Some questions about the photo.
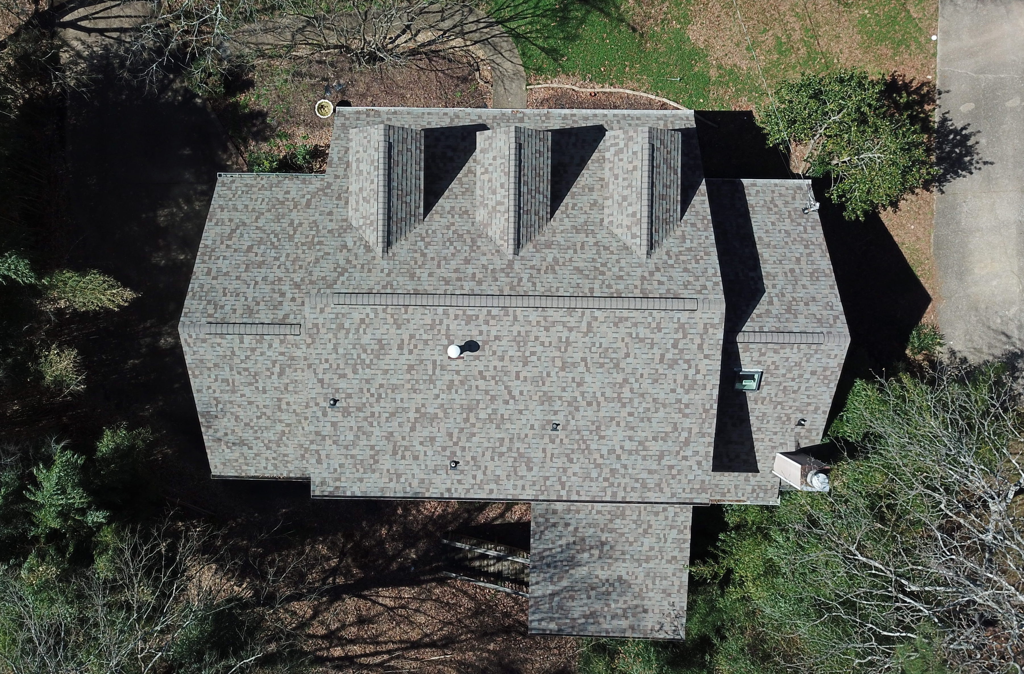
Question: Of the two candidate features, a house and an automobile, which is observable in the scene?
house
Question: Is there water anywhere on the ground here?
No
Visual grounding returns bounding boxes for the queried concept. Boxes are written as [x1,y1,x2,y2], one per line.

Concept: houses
[177,105,851,641]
